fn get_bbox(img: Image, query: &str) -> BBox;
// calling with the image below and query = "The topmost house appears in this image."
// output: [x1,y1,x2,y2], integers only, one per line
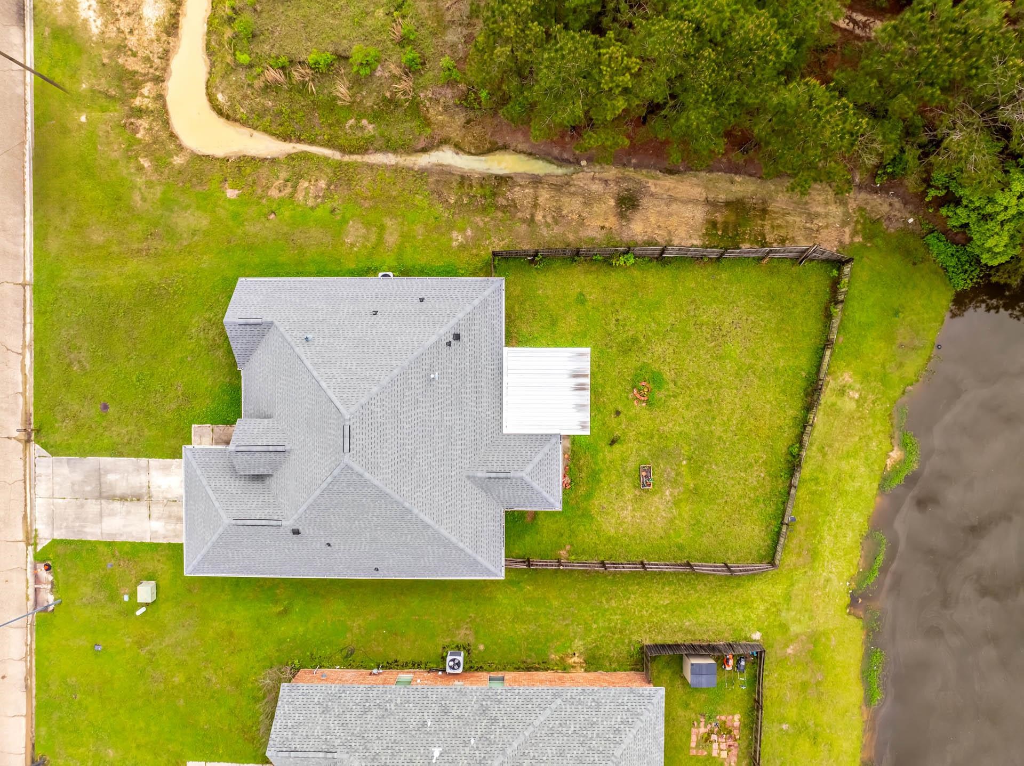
[183,276,562,580]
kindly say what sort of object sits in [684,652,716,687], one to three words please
shed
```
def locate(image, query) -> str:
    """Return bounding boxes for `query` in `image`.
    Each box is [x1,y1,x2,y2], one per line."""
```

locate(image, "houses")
[268,668,666,766]
[183,276,562,580]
